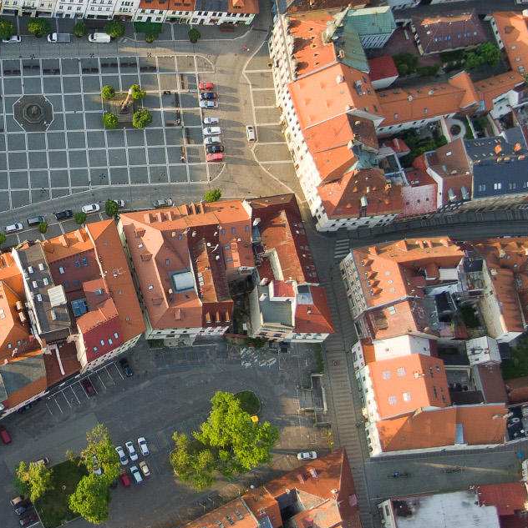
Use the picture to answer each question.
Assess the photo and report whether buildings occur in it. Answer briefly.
Yes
